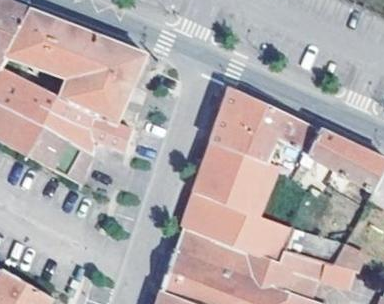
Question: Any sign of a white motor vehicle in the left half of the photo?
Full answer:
Yes, a white motor vehicle appears in the left half of the photo.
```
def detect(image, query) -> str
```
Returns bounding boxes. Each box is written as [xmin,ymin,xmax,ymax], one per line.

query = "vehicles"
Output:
[21,169,35,190]
[6,242,23,268]
[300,43,318,72]
[20,247,36,272]
[66,279,78,298]
[72,264,84,282]
[348,10,360,31]
[76,197,91,219]
[8,161,24,186]
[42,257,56,281]
[144,122,168,138]
[44,177,58,198]
[90,170,114,185]
[62,190,77,214]
[322,62,336,78]
[134,145,158,158]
